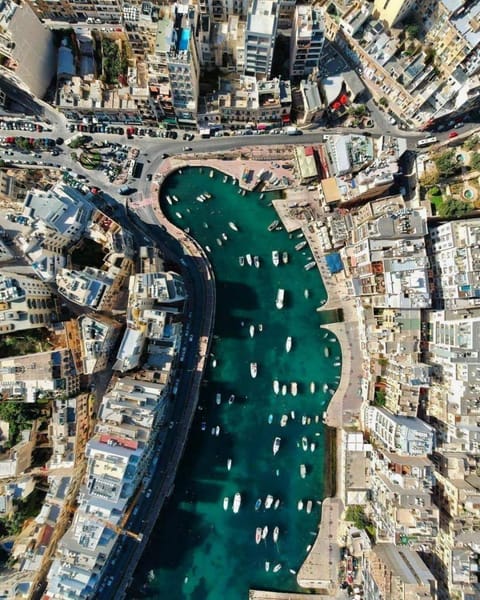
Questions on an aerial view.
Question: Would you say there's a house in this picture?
Yes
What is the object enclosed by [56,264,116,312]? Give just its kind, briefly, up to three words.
building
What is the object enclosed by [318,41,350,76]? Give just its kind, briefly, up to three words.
house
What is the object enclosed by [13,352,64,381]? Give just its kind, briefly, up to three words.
building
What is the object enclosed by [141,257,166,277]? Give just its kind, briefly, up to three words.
house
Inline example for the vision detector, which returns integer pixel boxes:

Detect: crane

[70,485,148,543]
